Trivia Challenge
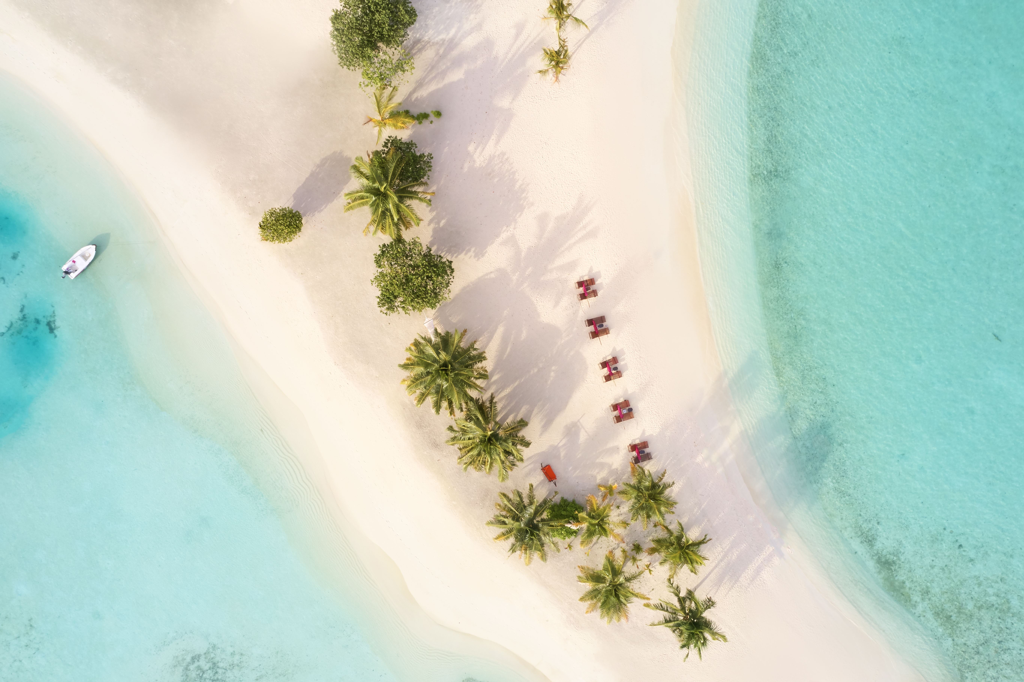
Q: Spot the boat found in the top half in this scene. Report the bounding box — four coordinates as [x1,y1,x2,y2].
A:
[62,244,98,281]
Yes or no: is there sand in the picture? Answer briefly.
Yes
